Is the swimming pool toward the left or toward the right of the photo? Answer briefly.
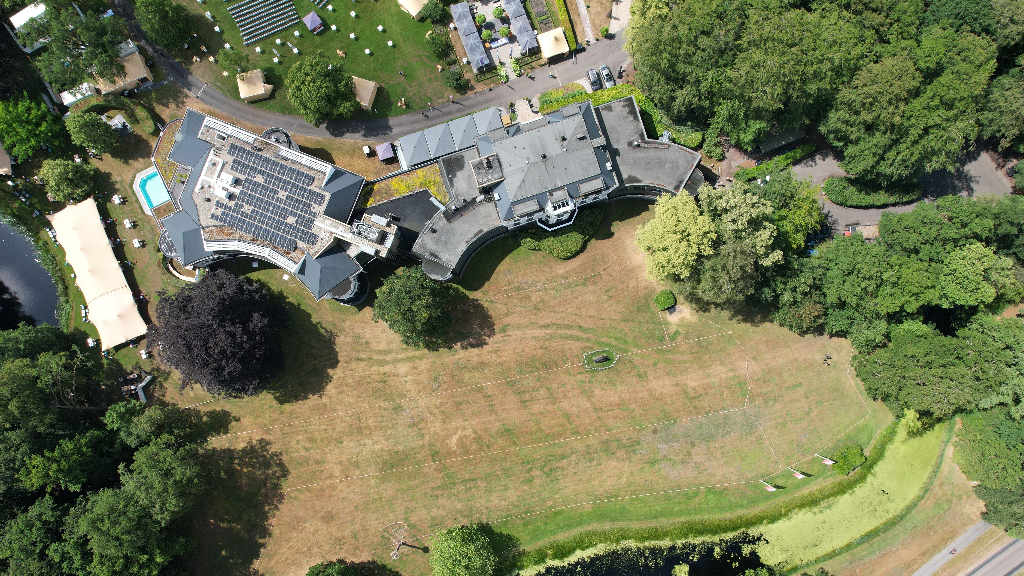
left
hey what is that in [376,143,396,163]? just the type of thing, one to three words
gazebo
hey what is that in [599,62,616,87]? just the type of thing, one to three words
car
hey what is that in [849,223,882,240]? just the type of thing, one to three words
building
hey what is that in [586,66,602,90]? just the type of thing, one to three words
car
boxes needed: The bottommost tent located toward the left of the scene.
[46,195,148,351]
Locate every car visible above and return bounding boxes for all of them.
[599,62,616,87]
[586,66,602,90]
[1005,165,1024,177]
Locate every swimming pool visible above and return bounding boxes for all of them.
[133,165,172,215]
